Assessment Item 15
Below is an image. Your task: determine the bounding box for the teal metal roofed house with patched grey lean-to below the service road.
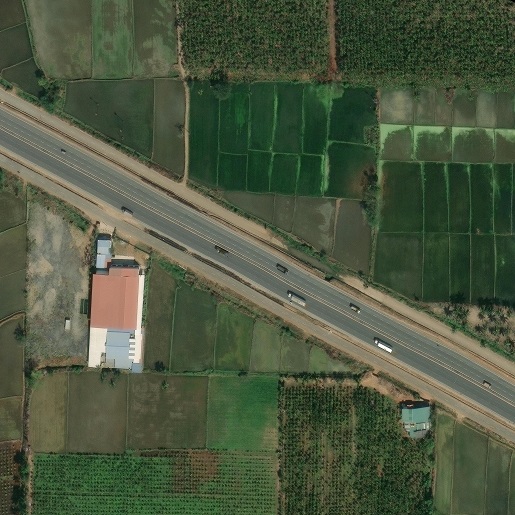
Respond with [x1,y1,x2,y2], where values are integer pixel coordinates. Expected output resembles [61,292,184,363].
[402,408,431,439]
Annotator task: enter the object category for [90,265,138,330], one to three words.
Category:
building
